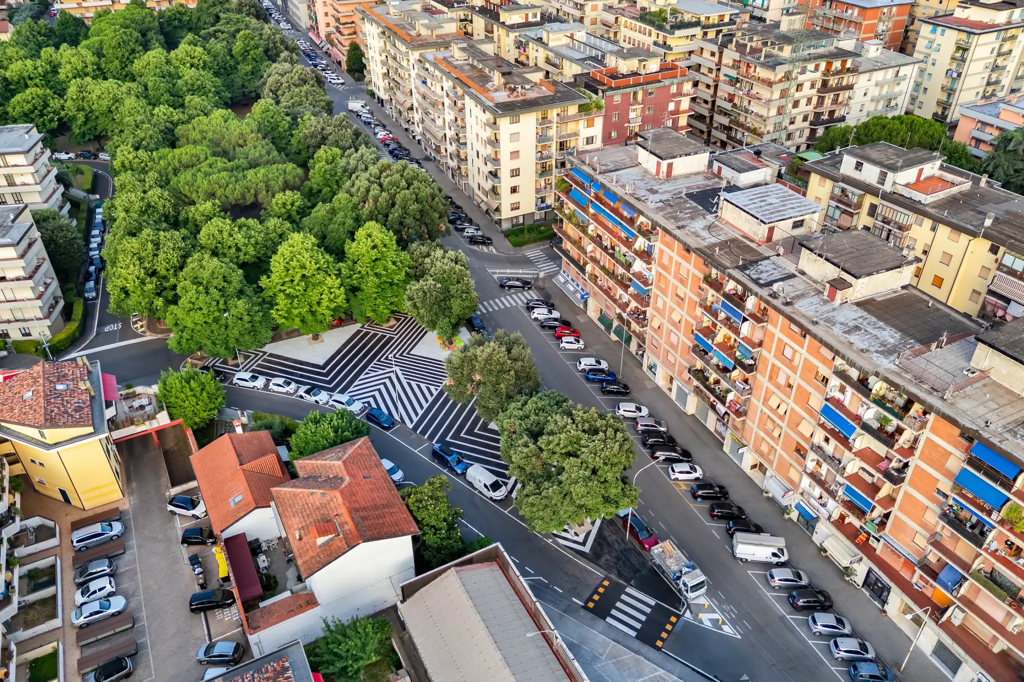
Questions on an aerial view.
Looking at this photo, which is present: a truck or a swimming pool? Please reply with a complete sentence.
The image shows a truck.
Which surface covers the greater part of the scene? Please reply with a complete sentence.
The largest share of the image is taken up by buildings.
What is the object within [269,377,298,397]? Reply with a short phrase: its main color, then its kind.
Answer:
white car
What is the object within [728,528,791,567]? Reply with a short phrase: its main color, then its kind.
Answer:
white van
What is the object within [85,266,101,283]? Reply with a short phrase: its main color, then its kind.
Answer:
black car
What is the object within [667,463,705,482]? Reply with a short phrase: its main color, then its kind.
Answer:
white car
